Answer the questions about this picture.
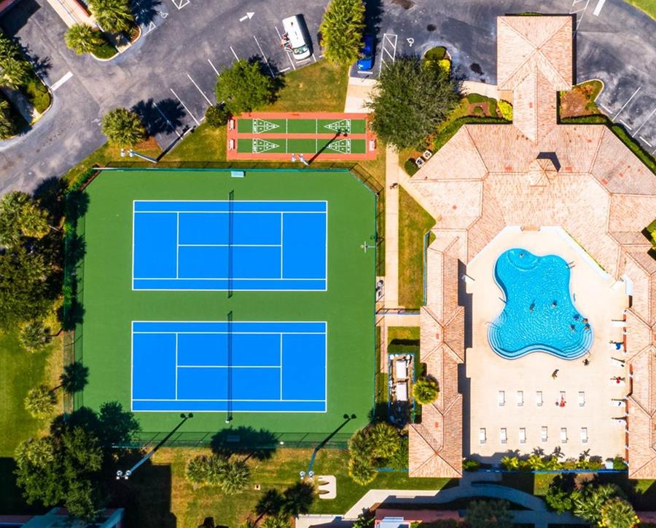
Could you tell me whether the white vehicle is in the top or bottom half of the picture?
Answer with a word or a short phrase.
top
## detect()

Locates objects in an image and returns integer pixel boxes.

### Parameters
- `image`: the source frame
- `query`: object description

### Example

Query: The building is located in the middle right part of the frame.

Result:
[409,15,656,479]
